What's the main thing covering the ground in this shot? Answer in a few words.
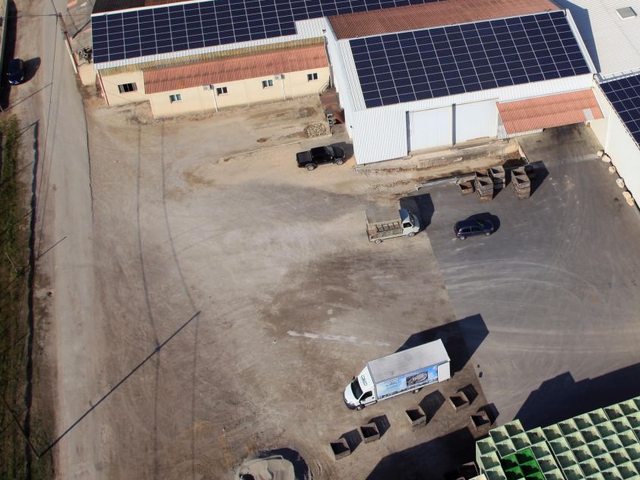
paved ground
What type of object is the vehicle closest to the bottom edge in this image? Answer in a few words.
truck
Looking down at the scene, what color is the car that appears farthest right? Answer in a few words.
black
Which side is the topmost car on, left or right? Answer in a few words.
left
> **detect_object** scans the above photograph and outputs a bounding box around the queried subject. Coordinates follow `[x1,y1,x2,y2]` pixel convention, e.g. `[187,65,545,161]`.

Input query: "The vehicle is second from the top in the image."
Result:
[298,143,349,169]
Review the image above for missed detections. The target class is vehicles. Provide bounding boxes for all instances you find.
[298,143,349,169]
[452,215,493,239]
[360,206,424,241]
[2,52,24,82]
[340,339,444,410]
